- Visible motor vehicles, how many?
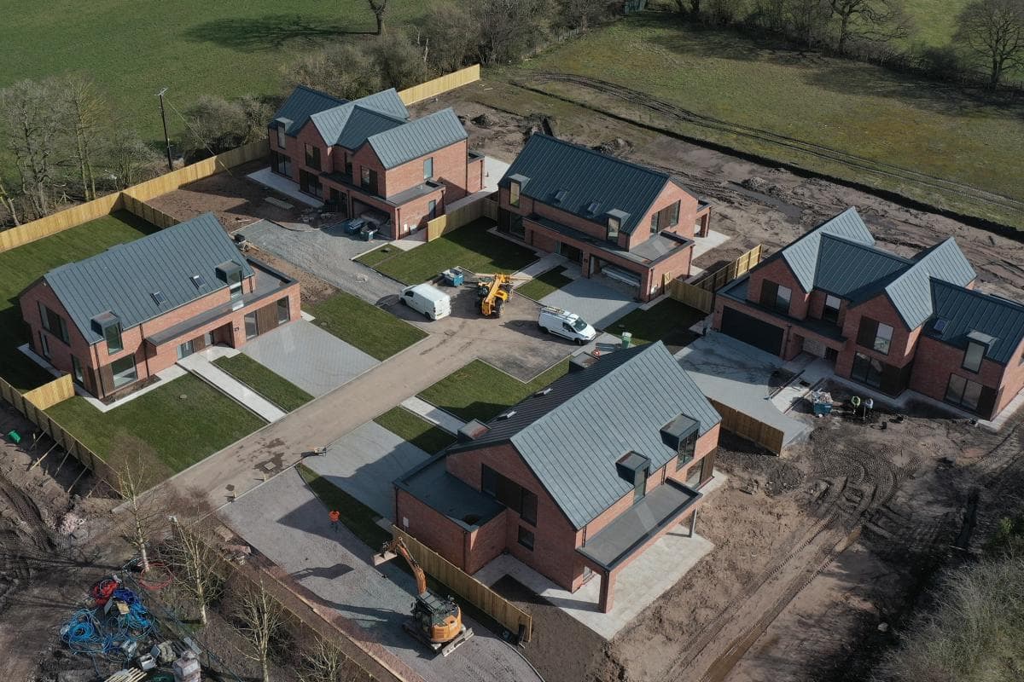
4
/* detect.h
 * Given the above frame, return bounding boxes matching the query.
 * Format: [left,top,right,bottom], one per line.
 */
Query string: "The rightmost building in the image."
[714,205,1024,421]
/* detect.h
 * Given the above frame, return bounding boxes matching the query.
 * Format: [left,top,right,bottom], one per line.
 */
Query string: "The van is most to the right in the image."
[535,297,598,342]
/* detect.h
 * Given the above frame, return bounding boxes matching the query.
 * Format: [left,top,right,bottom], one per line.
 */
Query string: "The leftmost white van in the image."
[399,280,453,320]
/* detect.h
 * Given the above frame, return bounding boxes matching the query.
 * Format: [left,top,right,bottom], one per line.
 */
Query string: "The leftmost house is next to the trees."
[13,209,304,401]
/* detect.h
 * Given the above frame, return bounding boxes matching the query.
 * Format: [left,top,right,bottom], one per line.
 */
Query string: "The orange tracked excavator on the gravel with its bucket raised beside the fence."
[378,533,474,655]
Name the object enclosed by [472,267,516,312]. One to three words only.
work vehicle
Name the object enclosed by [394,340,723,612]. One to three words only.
house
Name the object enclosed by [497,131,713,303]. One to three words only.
house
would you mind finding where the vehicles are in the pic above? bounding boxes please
[535,297,598,342]
[472,267,516,312]
[399,280,453,320]
[378,533,474,655]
